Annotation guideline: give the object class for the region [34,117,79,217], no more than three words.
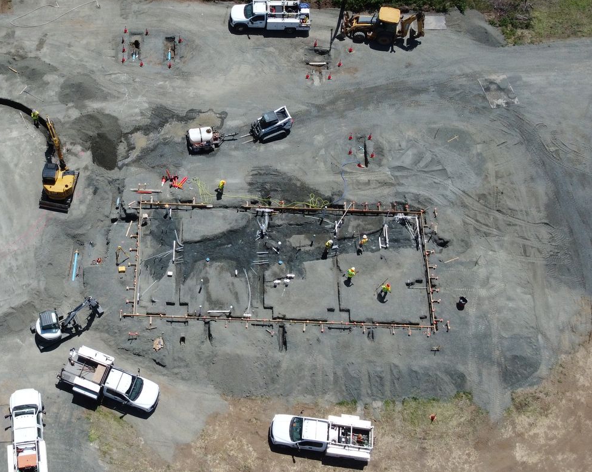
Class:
work vehicle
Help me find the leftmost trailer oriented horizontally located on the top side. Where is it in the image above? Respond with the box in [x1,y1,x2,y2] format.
[185,128,238,155]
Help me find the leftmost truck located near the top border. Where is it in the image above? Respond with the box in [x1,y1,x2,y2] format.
[230,0,312,34]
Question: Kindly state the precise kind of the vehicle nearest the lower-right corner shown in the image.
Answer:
truck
